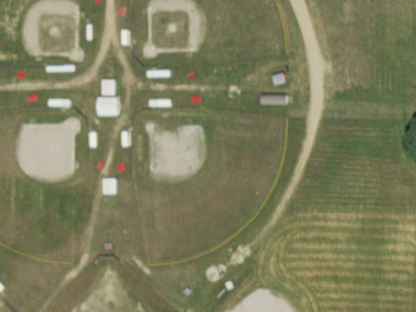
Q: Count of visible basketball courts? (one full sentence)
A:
There are no basketball courts in the image.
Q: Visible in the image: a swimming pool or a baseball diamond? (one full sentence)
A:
There is a baseball diamond in the scene.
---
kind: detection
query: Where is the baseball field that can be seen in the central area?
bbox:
[133,110,288,264]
